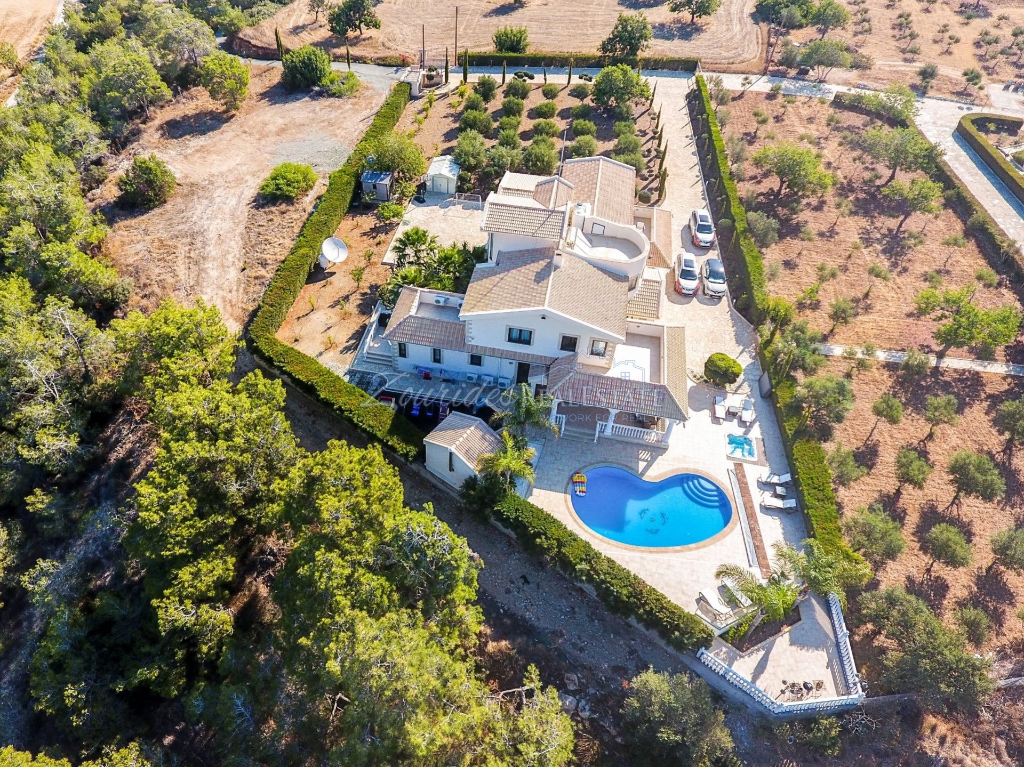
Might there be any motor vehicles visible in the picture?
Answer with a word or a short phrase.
Yes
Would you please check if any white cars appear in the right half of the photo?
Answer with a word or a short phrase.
Yes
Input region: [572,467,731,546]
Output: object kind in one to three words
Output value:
swimming pool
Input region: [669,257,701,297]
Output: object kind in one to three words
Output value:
car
